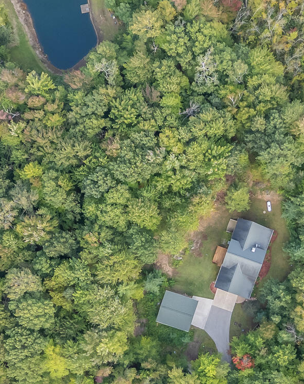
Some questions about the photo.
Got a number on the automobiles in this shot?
0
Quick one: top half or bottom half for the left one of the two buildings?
bottom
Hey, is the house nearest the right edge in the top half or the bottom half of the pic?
bottom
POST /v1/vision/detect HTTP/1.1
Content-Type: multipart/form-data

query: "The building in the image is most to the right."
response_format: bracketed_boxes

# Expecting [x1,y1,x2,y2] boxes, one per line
[215,218,274,299]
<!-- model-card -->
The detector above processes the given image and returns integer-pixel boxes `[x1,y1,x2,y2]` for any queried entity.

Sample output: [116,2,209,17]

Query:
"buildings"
[156,290,199,332]
[215,218,274,299]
